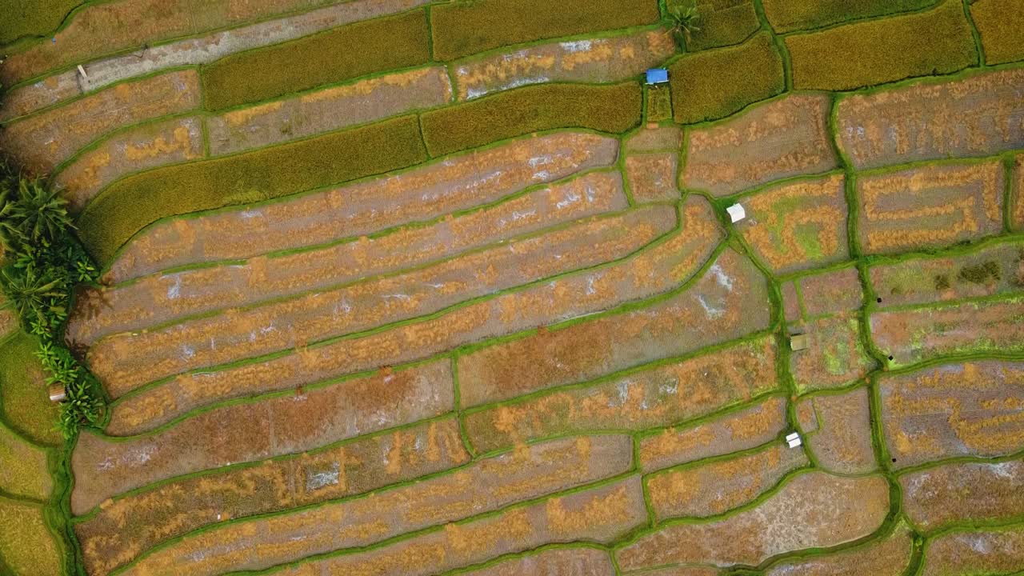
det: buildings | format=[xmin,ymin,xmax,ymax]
[725,203,744,223]
[50,383,70,400]
[789,334,808,349]
[645,69,668,85]
[784,431,802,449]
